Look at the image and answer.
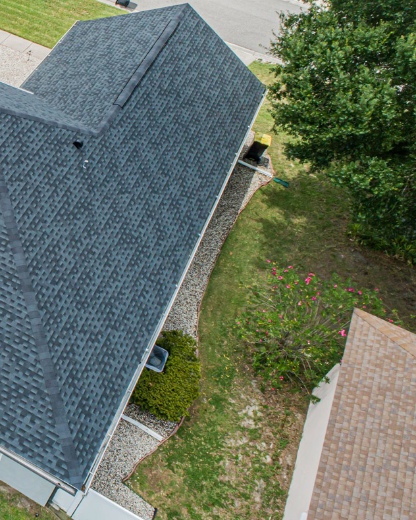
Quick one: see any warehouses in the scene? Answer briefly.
No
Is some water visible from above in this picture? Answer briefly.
No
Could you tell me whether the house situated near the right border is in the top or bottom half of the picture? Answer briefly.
bottom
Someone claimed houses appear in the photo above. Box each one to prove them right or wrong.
[0,2,270,506]
[282,307,416,520]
